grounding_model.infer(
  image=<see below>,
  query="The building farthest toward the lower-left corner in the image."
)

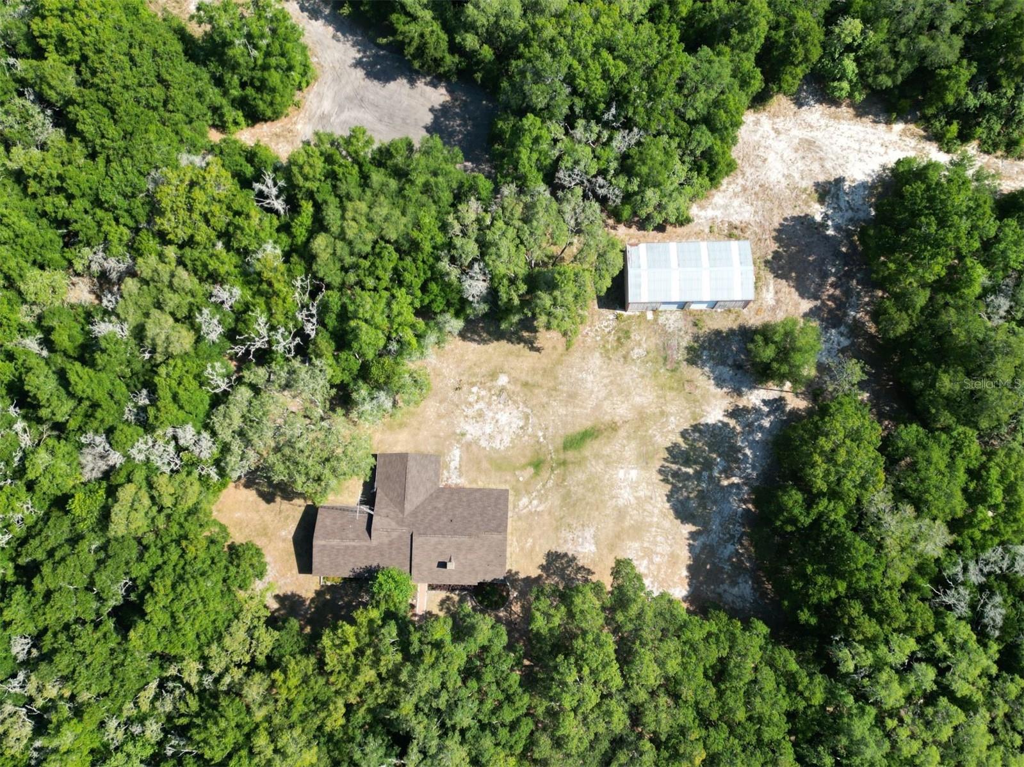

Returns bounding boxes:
[311,453,509,585]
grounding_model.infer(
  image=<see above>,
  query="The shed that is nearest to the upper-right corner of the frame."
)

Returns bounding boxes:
[623,241,756,313]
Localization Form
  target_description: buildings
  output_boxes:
[311,453,509,585]
[623,241,756,313]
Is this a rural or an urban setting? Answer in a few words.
rural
